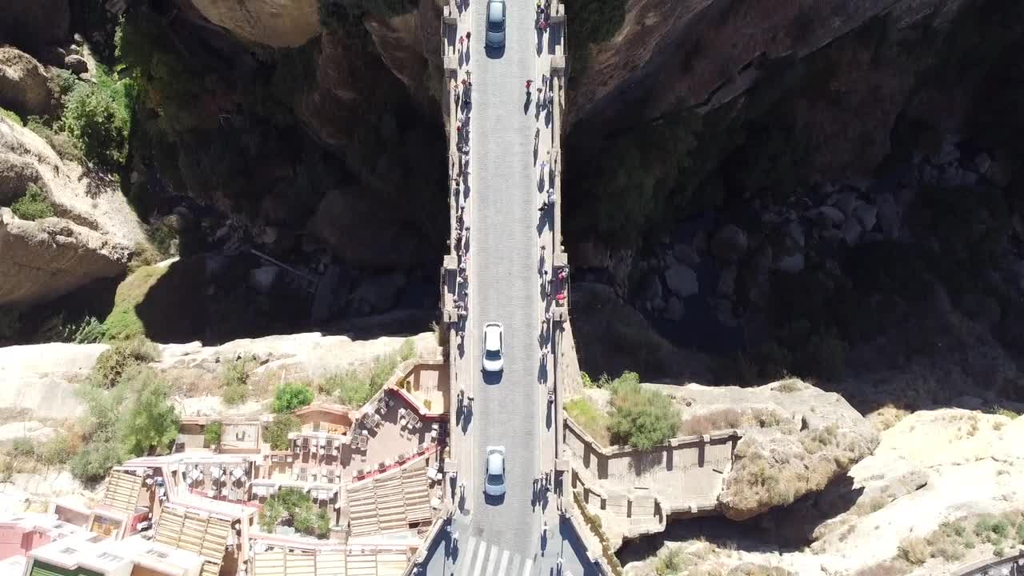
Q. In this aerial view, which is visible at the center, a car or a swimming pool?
car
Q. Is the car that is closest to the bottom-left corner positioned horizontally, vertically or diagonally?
vertically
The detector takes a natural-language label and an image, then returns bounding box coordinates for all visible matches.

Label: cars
[482,446,507,495]
[480,323,506,371]
[483,0,508,48]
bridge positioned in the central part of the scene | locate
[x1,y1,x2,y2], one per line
[439,0,585,524]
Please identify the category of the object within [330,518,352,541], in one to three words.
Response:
shed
